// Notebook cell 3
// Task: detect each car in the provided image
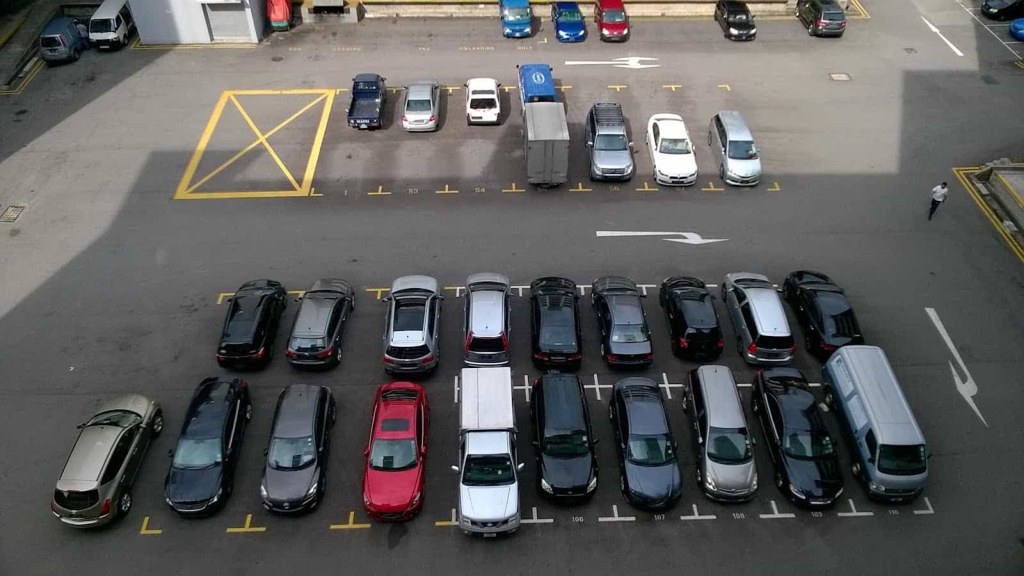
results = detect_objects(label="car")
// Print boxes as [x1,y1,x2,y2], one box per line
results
[524,276,584,369]
[553,0,589,42]
[463,79,502,125]
[784,264,870,358]
[790,0,849,36]
[211,278,288,370]
[609,377,689,511]
[400,76,443,131]
[592,275,656,367]
[43,397,166,533]
[682,369,763,503]
[357,382,432,523]
[585,97,635,179]
[458,276,518,370]
[38,15,95,59]
[500,0,535,37]
[647,115,701,186]
[382,275,443,372]
[756,372,850,509]
[723,272,797,367]
[1008,13,1024,37]
[707,112,765,186]
[252,383,336,515]
[281,278,355,371]
[530,375,603,505]
[712,0,757,40]
[983,0,1024,22]
[661,275,726,361]
[594,0,632,42]
[159,378,253,519]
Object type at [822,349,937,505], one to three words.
van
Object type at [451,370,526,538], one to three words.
truck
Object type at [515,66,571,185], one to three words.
truck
